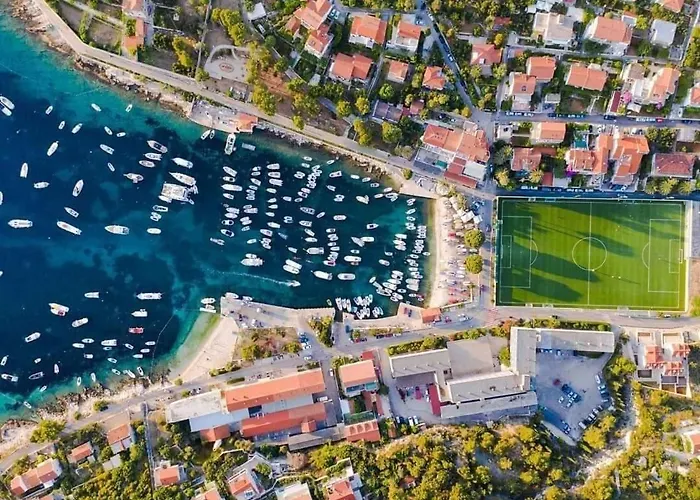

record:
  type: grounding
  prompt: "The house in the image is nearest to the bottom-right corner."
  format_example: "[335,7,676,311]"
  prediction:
[658,356,688,384]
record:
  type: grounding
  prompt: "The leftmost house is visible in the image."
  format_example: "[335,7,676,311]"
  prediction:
[6,454,69,494]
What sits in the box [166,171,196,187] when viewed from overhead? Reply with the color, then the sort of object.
white boat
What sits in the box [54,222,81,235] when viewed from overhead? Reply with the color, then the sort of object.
white boat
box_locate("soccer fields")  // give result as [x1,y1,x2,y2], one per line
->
[497,198,687,311]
